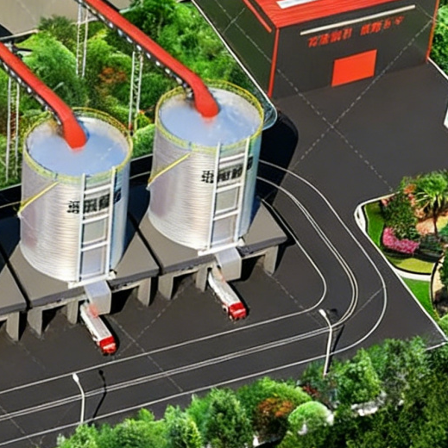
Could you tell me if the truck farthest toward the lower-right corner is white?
Yes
